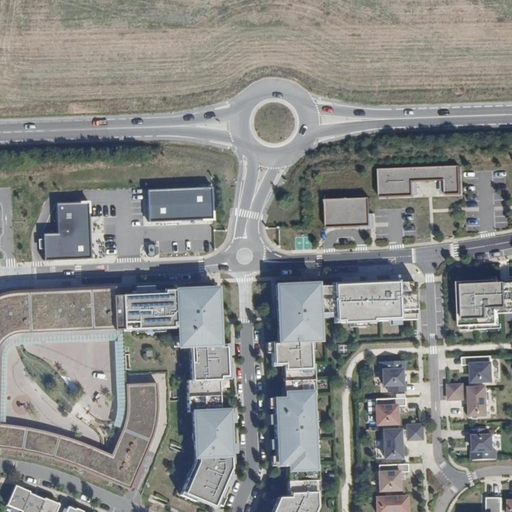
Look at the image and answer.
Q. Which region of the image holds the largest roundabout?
top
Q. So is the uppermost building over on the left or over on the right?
right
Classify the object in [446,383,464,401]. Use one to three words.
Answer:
building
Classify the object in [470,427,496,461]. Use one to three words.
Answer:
house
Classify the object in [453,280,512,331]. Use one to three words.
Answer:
building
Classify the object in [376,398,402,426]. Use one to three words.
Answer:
house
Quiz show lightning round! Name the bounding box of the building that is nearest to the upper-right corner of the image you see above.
[376,166,462,197]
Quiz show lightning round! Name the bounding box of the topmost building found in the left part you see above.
[148,186,216,223]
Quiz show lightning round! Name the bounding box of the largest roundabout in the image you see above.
[250,98,299,148]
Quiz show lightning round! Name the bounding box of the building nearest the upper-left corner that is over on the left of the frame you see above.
[38,200,92,260]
